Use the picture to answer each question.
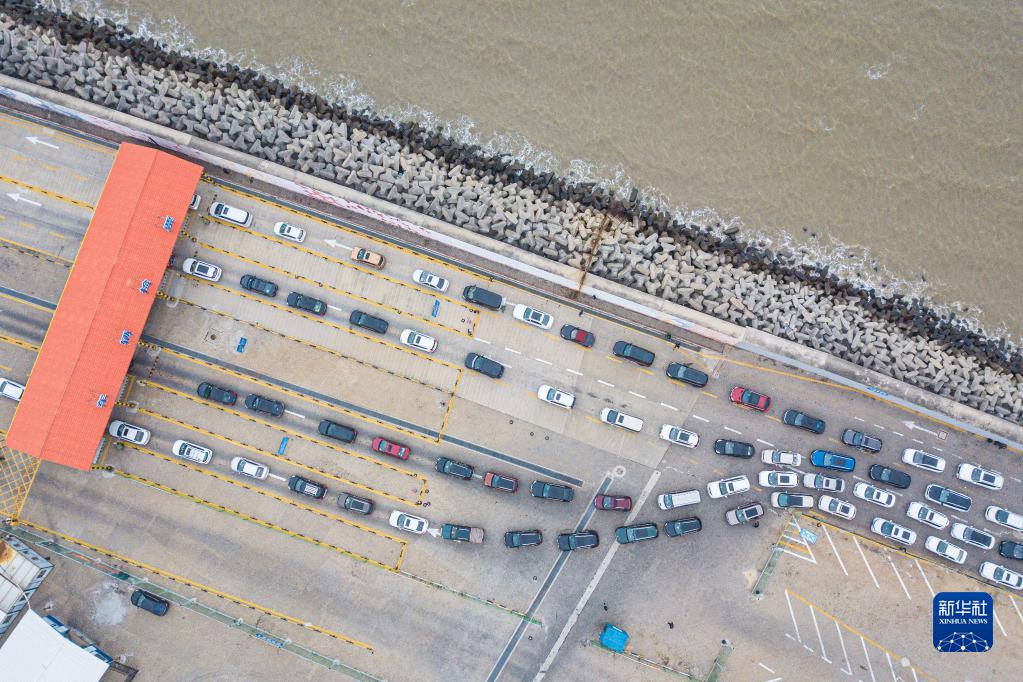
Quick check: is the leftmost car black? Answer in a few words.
No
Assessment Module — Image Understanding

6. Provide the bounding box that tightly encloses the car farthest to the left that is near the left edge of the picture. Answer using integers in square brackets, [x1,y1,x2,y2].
[0,375,28,401]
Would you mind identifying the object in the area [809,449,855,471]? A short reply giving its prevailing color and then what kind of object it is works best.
blue car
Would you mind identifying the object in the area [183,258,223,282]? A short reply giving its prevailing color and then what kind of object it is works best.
white car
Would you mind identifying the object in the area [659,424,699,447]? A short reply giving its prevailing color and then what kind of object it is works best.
white car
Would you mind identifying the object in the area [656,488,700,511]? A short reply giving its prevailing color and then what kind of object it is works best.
white vehicle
